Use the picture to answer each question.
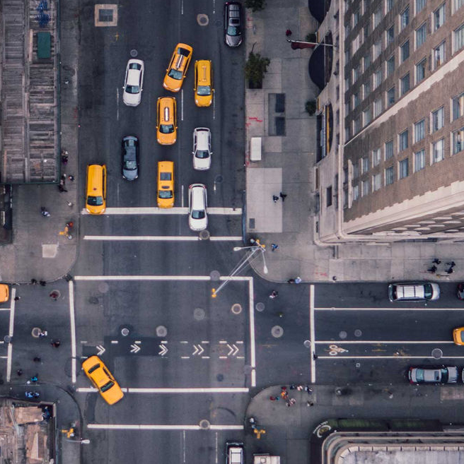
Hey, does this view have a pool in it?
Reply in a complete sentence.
No, there's no pool here.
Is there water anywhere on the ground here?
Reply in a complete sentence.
No, the scene doesn't show any water.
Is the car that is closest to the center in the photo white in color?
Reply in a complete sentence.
Yes, the car that is closest to the center is indeed white.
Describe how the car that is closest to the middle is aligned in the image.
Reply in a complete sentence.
In this picture, the car that is closest to the middle is oriented from top to bottom.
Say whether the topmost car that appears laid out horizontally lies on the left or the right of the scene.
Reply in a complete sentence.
The topmost car that appears laid out horizontally appears in the right half of the scene.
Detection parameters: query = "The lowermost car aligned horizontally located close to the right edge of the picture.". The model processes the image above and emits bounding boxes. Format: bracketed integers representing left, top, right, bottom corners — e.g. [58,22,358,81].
[408,365,457,388]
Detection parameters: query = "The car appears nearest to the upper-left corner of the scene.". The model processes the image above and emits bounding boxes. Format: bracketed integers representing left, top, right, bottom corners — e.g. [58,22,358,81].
[122,59,144,107]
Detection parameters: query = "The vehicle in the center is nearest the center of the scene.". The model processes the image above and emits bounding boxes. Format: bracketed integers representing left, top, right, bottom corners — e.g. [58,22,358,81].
[186,183,209,232]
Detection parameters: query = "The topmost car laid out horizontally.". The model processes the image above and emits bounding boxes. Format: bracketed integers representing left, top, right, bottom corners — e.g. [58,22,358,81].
[388,280,440,304]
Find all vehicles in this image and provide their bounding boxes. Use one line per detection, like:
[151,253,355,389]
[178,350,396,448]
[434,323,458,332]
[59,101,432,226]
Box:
[119,135,140,181]
[83,354,123,407]
[155,161,176,209]
[452,326,464,346]
[222,1,244,49]
[192,60,214,108]
[388,280,440,304]
[122,59,144,107]
[408,365,457,388]
[224,442,244,464]
[84,165,107,215]
[155,96,177,146]
[164,41,192,96]
[0,283,10,304]
[186,183,209,232]
[191,127,212,171]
